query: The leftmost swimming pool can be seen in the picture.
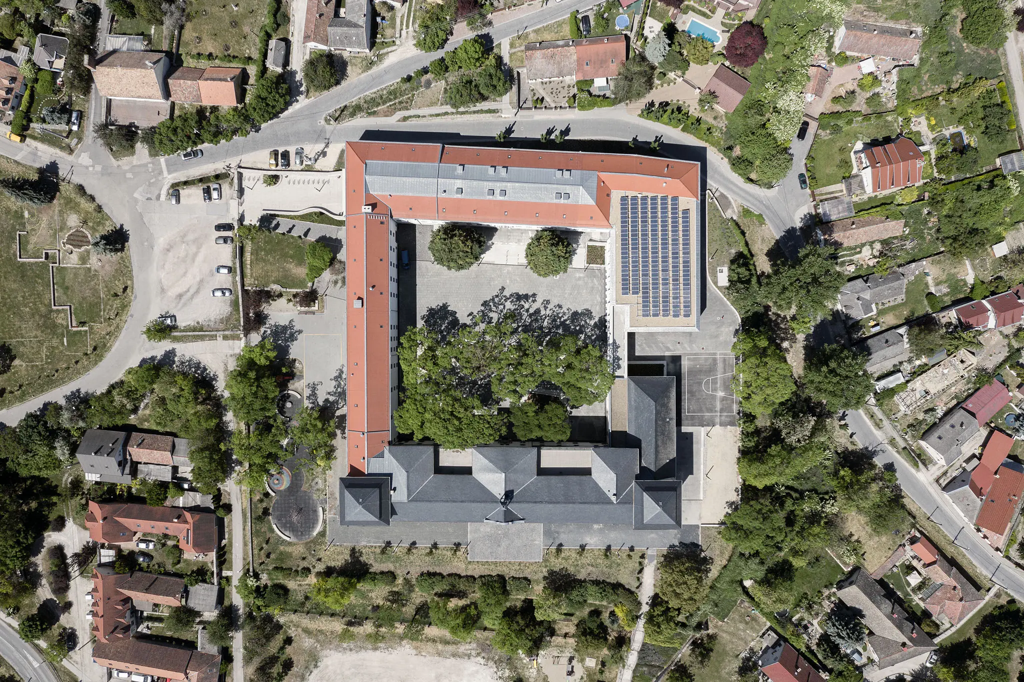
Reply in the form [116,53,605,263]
[615,12,630,29]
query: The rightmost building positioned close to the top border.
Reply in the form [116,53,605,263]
[833,21,923,64]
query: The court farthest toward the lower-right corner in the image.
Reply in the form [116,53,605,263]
[627,352,740,427]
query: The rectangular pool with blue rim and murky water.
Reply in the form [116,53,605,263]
[949,129,969,149]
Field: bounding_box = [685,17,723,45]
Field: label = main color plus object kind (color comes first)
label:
blue swimming pool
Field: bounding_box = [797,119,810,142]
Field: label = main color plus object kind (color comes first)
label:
black vehicle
